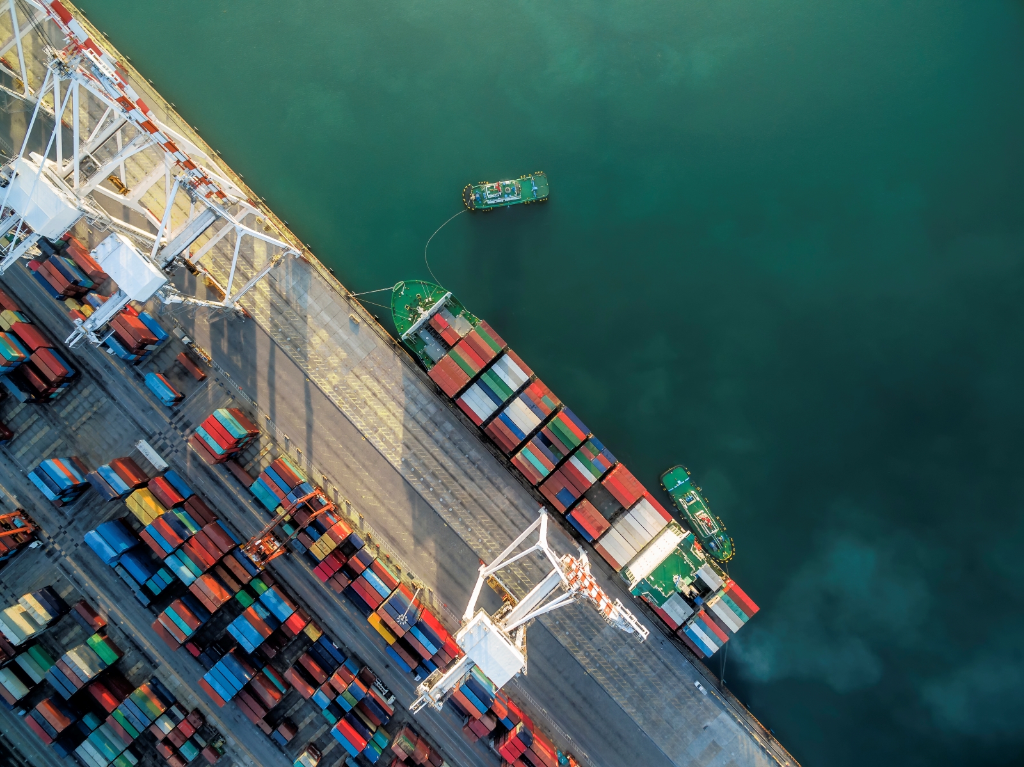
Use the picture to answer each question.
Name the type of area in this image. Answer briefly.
port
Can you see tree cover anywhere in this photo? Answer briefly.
No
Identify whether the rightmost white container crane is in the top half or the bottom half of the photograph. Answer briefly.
bottom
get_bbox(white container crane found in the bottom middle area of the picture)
[406,504,654,728]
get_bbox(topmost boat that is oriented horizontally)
[462,169,549,211]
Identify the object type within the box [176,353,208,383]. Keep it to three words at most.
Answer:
shipping container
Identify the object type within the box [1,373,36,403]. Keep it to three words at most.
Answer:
shipping container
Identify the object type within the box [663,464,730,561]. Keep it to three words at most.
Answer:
boat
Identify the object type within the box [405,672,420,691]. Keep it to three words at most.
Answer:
vehicle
